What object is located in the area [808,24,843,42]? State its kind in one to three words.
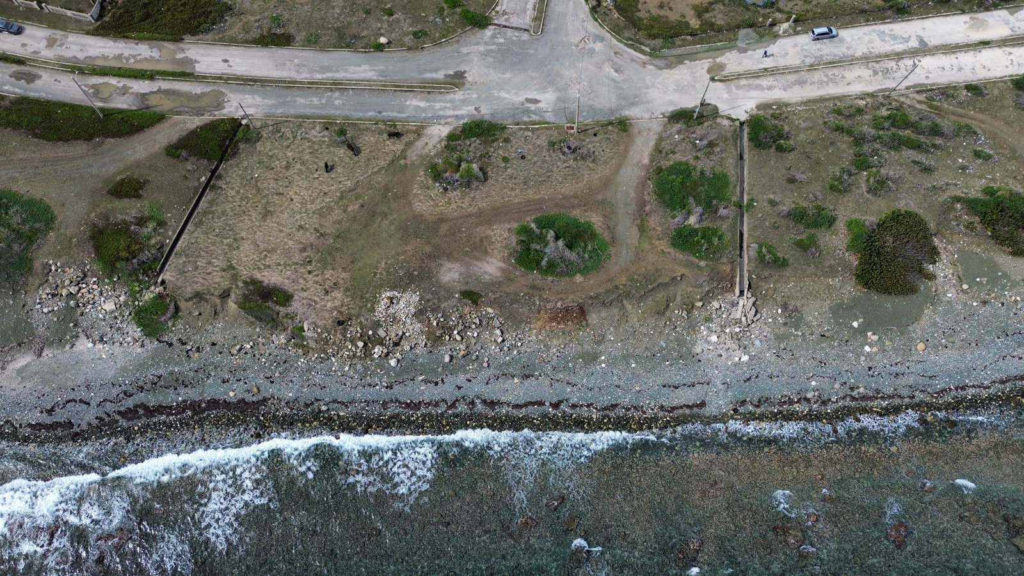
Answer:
car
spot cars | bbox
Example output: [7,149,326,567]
[808,24,843,42]
[0,20,23,38]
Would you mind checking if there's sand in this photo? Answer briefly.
Yes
